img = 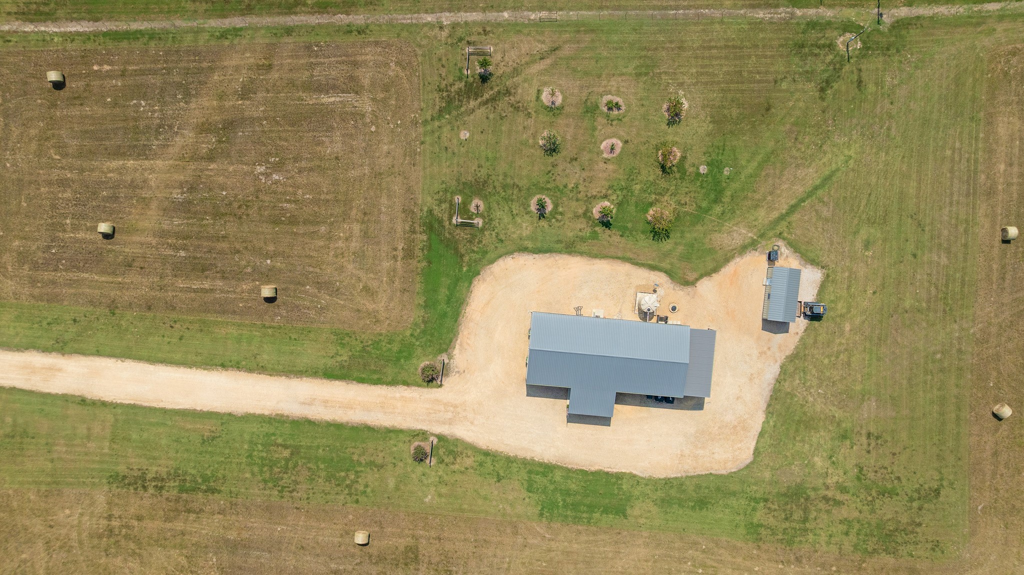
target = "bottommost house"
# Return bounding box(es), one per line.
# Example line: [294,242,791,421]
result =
[525,311,716,418]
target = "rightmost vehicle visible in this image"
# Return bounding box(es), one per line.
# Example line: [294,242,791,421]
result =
[796,300,827,317]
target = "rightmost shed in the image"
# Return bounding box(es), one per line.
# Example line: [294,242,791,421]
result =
[762,267,801,323]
